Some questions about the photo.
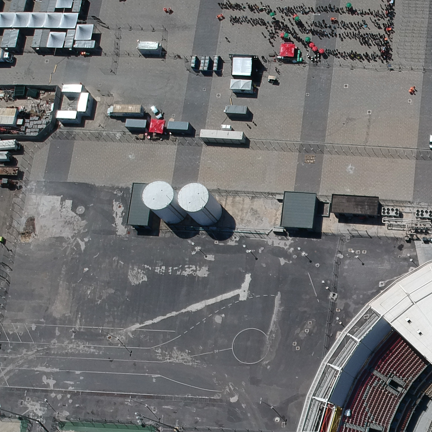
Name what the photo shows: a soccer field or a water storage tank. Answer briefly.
water storage tank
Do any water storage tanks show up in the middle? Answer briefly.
Yes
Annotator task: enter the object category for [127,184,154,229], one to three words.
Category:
building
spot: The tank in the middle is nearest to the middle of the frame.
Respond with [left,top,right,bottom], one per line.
[177,182,223,225]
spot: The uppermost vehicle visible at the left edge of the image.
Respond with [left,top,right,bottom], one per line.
[0,50,13,63]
